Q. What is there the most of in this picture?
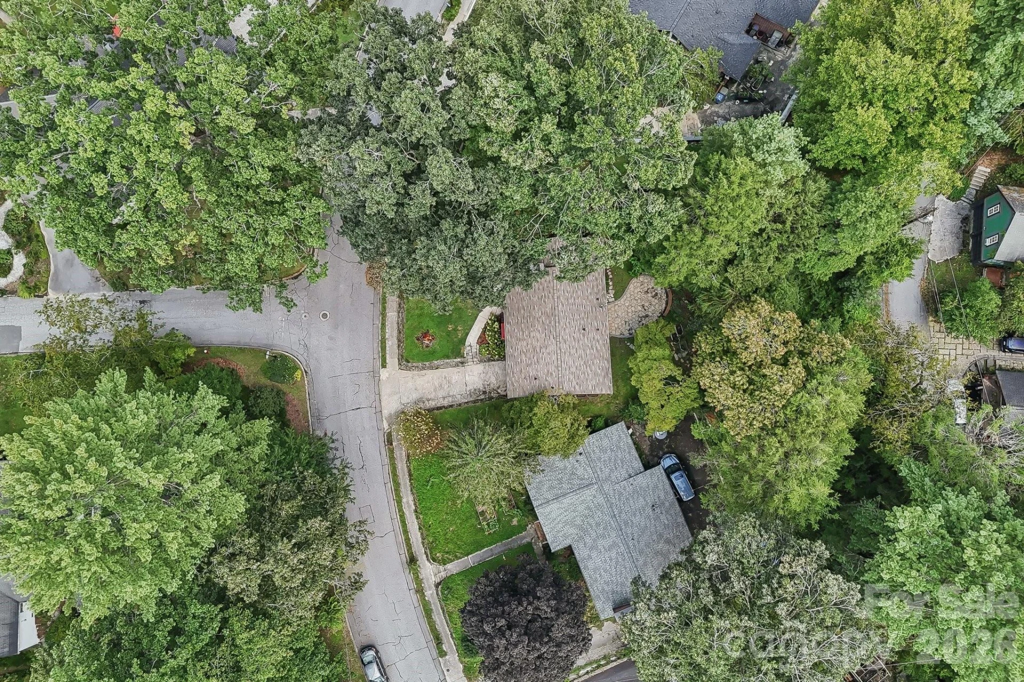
trees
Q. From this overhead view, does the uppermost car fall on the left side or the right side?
right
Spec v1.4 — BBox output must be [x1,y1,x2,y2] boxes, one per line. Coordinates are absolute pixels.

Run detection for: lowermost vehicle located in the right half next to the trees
[658,450,696,505]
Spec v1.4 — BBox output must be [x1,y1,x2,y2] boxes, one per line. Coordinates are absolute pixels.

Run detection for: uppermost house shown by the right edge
[971,188,1024,267]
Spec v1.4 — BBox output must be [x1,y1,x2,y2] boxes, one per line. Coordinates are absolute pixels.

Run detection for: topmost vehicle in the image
[1004,335,1024,355]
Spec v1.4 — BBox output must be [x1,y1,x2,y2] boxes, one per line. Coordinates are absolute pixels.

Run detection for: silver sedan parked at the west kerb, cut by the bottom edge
[364,648,397,682]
